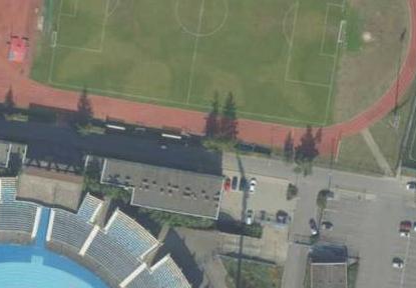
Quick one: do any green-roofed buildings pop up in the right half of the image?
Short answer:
No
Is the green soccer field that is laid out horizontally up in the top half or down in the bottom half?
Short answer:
top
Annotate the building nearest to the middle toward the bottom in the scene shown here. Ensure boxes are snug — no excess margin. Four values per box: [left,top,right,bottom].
[101,158,223,220]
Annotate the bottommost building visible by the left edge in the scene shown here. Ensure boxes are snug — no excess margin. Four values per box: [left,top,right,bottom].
[16,160,86,215]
